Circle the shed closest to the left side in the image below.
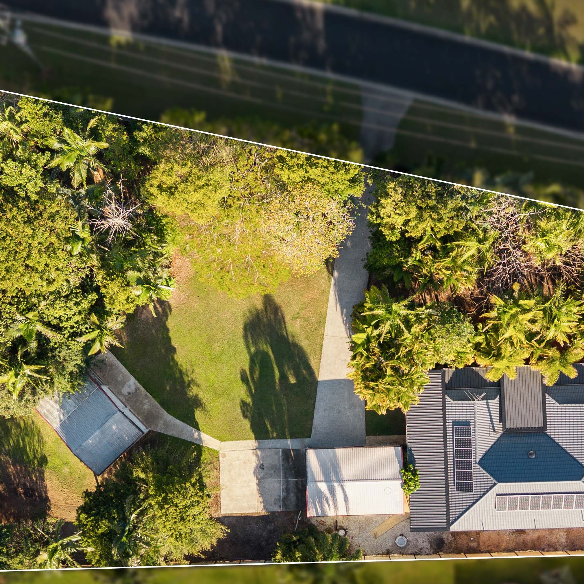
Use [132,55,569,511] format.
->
[36,365,149,474]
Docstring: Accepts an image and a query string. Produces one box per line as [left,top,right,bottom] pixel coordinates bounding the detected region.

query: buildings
[306,444,405,517]
[36,365,149,474]
[406,363,584,534]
